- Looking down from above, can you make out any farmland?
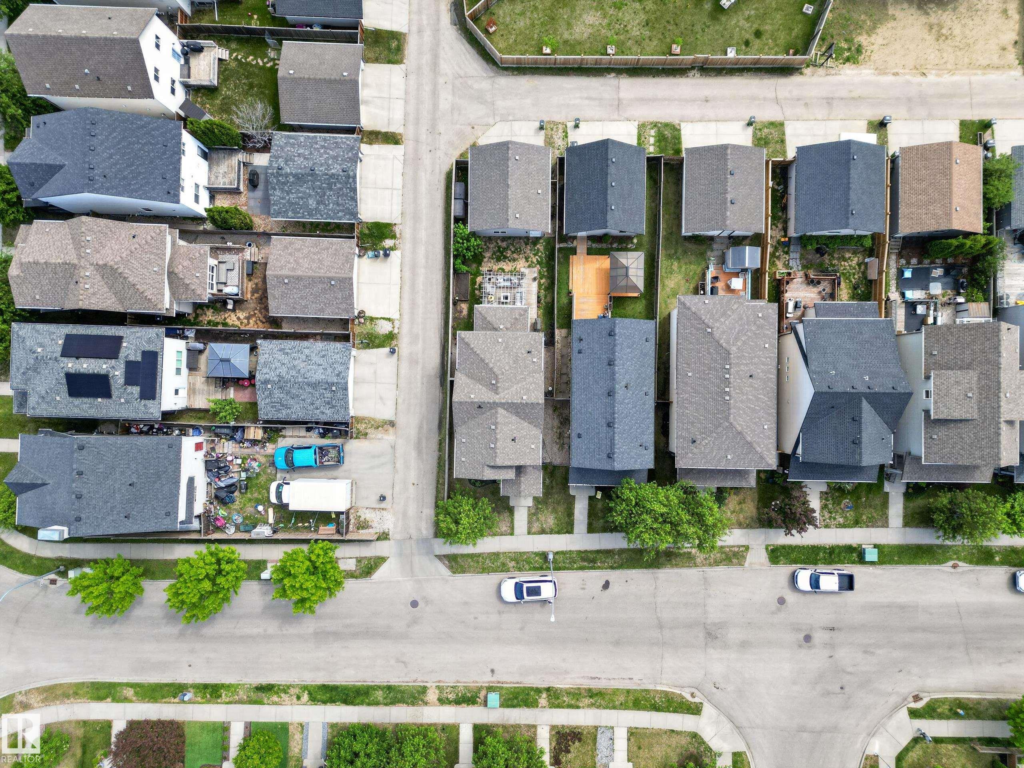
No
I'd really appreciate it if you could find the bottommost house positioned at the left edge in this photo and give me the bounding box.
[4,428,209,541]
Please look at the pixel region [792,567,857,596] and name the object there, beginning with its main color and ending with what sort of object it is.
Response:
white truck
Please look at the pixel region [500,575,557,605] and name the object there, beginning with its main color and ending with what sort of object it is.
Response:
white car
